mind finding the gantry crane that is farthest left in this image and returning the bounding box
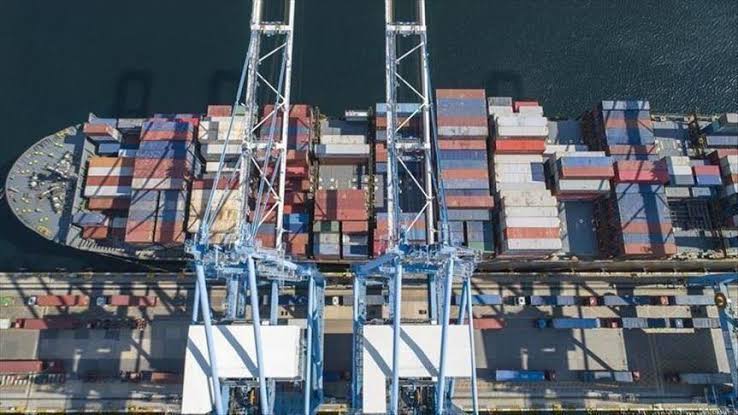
[177,0,349,415]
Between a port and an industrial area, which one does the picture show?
port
